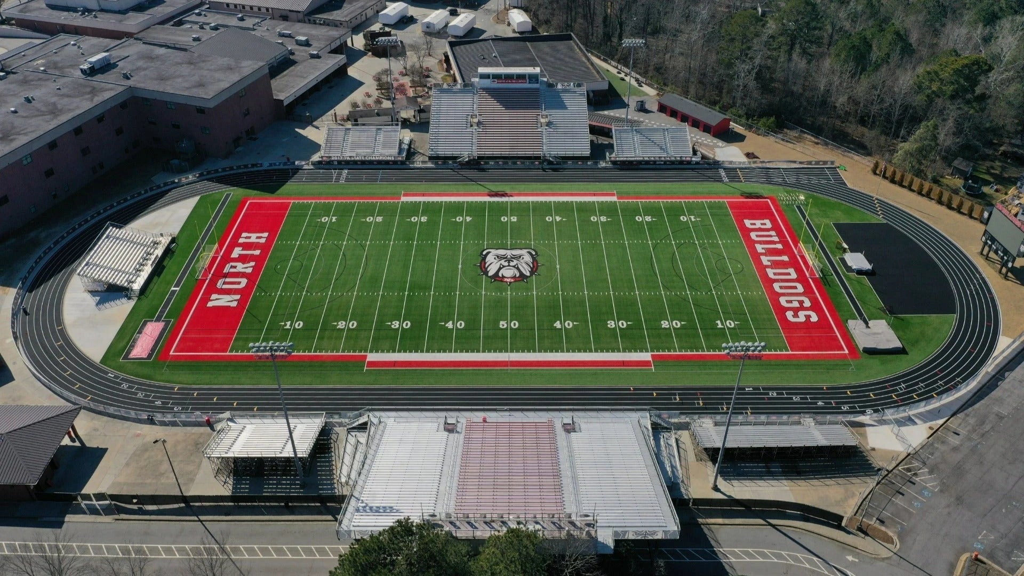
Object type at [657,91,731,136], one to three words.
shed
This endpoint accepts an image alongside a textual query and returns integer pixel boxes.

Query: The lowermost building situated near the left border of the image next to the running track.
[0,405,82,496]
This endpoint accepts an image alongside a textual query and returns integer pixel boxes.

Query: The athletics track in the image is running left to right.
[16,168,1001,417]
